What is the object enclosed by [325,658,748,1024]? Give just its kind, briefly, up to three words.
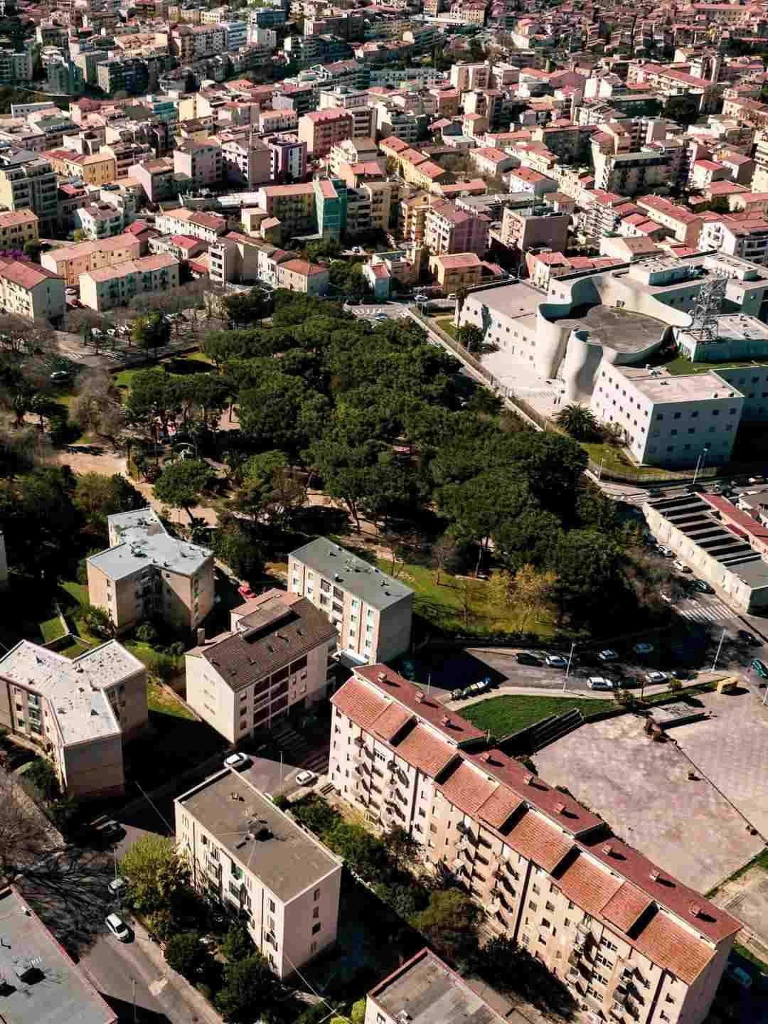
building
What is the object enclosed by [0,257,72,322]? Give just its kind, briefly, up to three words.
house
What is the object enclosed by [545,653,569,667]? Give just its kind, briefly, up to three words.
car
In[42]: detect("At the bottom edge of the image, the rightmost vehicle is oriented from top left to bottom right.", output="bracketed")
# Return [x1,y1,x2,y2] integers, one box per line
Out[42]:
[728,958,758,990]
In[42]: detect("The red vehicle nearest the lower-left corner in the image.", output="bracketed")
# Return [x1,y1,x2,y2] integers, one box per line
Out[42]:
[231,582,250,596]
